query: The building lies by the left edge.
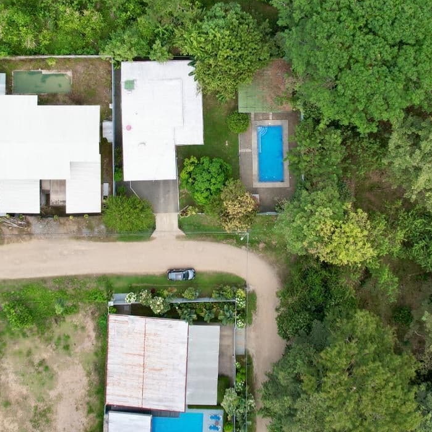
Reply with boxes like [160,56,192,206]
[0,73,102,217]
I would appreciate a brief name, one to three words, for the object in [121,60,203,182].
house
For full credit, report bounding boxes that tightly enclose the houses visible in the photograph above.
[106,313,220,432]
[121,60,203,182]
[0,73,102,217]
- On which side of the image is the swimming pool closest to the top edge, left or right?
left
